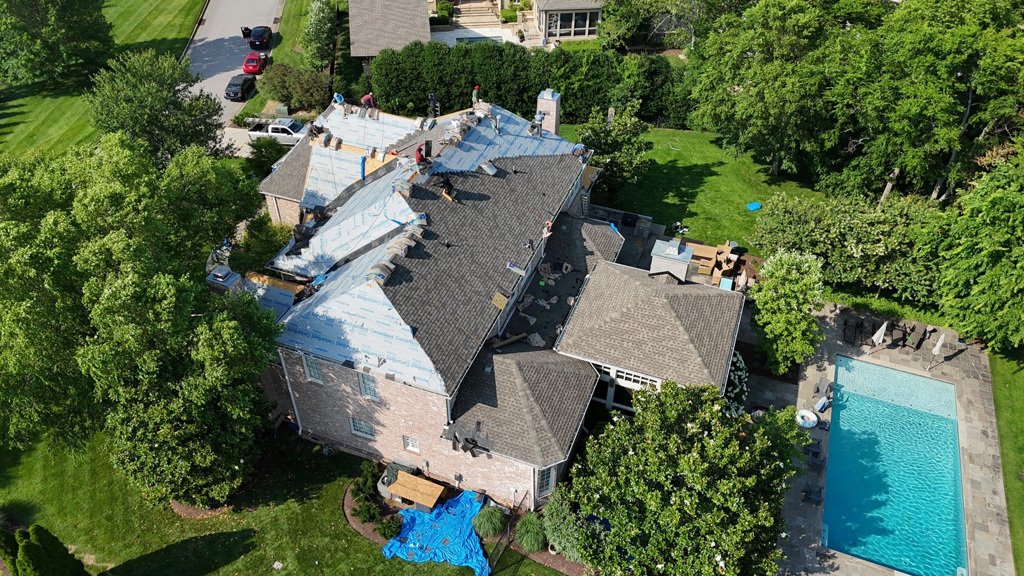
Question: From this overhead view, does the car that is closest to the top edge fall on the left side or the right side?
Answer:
left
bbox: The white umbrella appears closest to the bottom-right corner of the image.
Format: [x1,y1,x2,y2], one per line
[927,333,945,371]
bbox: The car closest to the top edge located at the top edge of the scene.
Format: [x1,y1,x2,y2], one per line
[241,26,275,51]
